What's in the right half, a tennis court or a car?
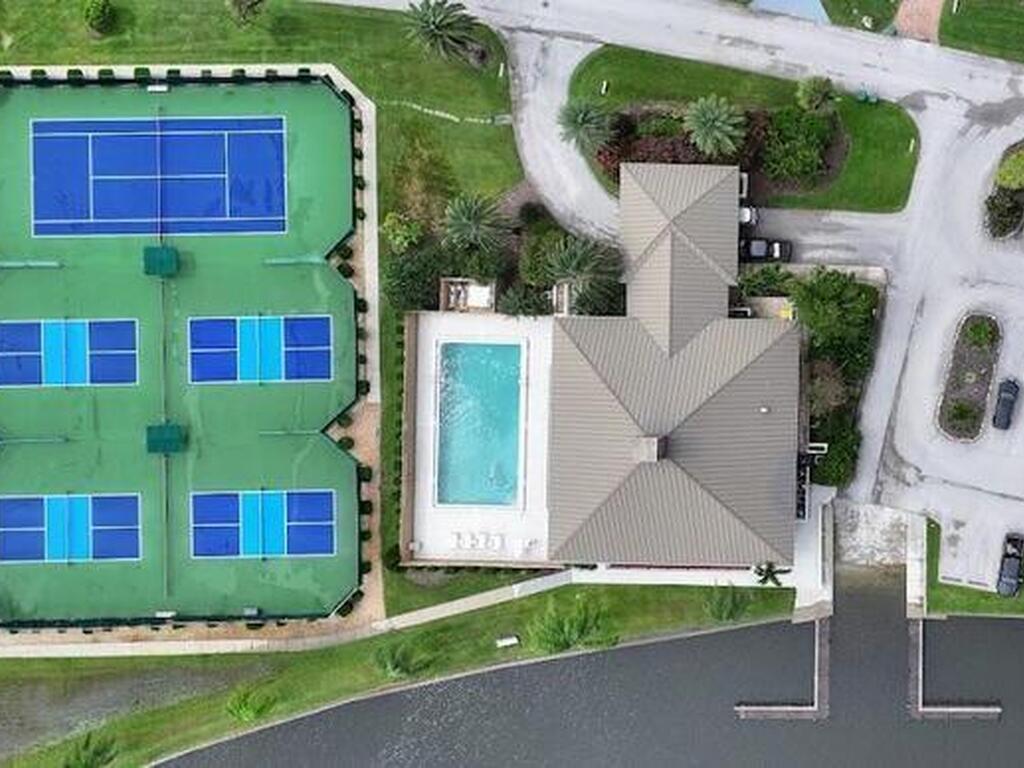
car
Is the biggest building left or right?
right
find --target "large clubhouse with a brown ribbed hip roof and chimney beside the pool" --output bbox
[548,163,801,569]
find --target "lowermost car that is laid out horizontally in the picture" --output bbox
[739,236,791,262]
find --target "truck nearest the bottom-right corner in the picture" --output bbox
[997,532,1024,600]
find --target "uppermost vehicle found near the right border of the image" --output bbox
[992,378,1021,432]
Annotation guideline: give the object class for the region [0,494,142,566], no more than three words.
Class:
sports court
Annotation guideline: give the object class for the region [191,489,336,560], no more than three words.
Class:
sports court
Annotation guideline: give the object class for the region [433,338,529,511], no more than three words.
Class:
swimming pool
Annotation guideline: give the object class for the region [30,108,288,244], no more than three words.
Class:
tennis court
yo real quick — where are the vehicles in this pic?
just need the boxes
[997,532,1024,600]
[992,378,1021,432]
[739,206,762,223]
[739,236,791,262]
